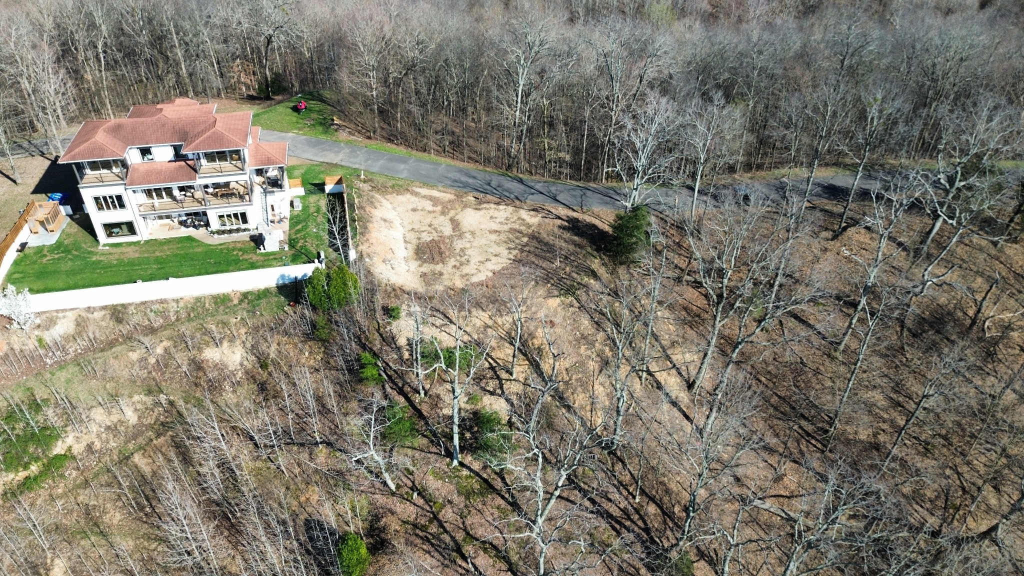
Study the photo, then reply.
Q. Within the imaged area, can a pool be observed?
No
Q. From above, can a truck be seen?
No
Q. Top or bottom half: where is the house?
top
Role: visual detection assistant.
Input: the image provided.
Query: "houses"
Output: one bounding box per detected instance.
[54,93,291,243]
